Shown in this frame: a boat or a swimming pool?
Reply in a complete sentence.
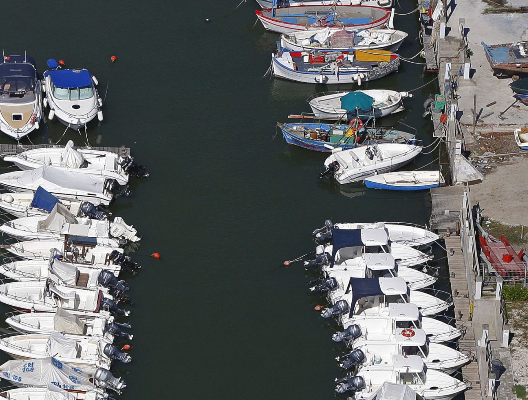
It is a boat that can be seen here.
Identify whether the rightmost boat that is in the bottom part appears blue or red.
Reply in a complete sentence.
The rightmost boat that is in the bottom part looks red in the image.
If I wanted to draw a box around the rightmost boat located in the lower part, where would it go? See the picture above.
[481,228,524,277]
